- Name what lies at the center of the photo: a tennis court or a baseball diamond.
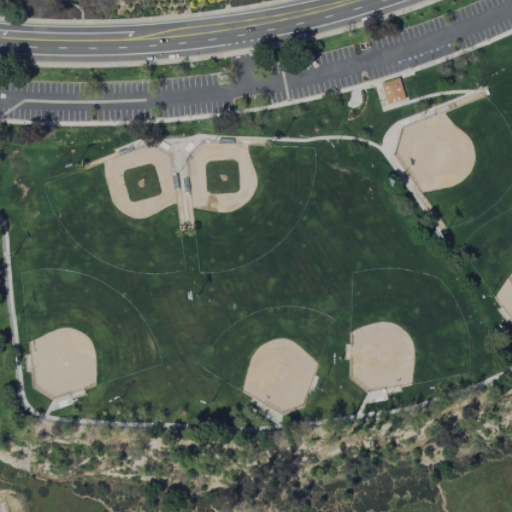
baseball diamond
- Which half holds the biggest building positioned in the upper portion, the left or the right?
right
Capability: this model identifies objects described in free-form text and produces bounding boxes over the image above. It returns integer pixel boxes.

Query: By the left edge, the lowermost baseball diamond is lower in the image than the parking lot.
[23,268,161,399]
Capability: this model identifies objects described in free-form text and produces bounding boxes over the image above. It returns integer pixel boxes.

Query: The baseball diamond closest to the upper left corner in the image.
[46,148,185,274]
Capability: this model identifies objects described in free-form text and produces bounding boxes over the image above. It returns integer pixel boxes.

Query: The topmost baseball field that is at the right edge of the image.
[396,97,512,228]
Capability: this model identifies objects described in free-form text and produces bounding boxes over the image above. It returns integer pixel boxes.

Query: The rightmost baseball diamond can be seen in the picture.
[467,210,512,320]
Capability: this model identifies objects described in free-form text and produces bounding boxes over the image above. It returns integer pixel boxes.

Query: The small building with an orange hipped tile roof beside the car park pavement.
[384,77,406,104]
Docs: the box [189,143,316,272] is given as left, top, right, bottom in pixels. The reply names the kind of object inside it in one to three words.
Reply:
baseball field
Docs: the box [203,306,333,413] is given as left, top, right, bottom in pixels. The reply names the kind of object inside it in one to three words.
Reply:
baseball field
